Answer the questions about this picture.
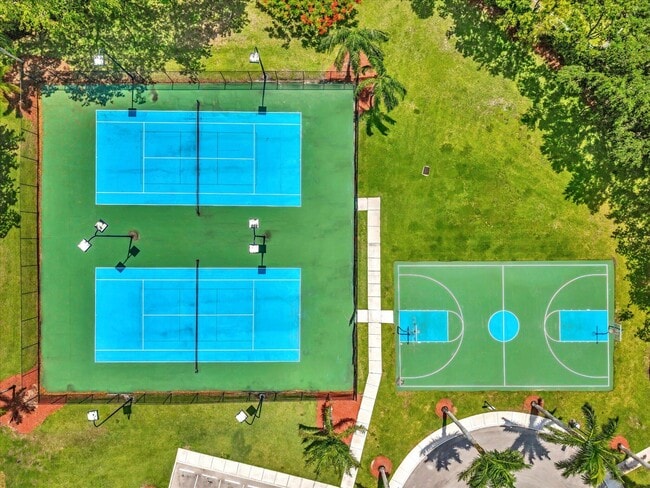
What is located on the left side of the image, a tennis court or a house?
tennis court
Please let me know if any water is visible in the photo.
No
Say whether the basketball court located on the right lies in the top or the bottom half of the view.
bottom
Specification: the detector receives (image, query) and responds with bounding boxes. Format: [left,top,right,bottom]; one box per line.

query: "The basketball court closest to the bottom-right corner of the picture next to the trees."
[394,260,614,392]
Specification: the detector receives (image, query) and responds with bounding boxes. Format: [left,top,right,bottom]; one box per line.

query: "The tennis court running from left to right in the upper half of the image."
[95,110,302,206]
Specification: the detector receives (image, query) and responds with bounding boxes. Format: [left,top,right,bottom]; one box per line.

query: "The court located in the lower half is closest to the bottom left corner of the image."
[95,268,300,362]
